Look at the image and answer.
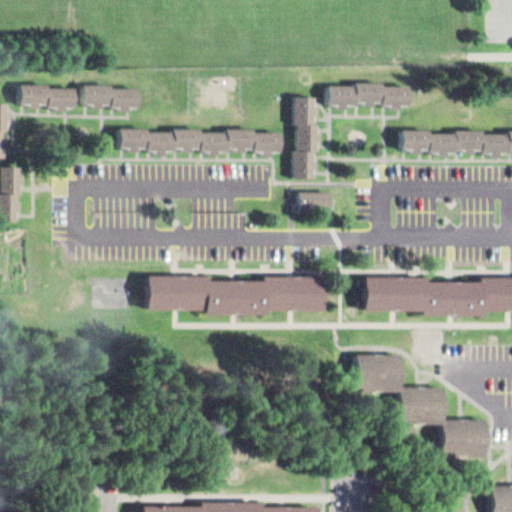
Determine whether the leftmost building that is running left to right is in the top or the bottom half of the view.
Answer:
top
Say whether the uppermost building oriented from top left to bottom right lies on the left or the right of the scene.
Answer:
right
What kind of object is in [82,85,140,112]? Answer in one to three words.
building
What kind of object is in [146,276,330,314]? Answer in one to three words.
building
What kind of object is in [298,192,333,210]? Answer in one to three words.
house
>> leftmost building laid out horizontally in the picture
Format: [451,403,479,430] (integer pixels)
[20,85,78,112]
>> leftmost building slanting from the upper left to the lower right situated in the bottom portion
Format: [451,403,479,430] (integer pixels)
[354,354,489,456]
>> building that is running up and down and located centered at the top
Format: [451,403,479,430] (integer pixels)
[294,96,319,180]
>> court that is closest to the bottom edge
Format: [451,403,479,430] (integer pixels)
[92,279,130,310]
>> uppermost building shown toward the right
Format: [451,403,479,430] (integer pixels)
[326,84,412,110]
